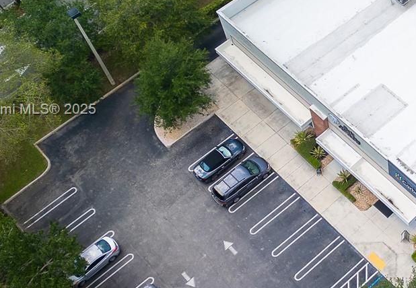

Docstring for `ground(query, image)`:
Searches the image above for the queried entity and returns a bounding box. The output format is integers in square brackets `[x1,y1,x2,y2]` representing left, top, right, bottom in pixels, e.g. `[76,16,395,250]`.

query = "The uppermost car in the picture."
[190,139,243,182]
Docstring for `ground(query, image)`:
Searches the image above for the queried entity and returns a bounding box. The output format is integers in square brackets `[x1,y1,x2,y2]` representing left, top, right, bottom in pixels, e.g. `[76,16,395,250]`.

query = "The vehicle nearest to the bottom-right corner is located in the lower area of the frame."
[211,160,271,209]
